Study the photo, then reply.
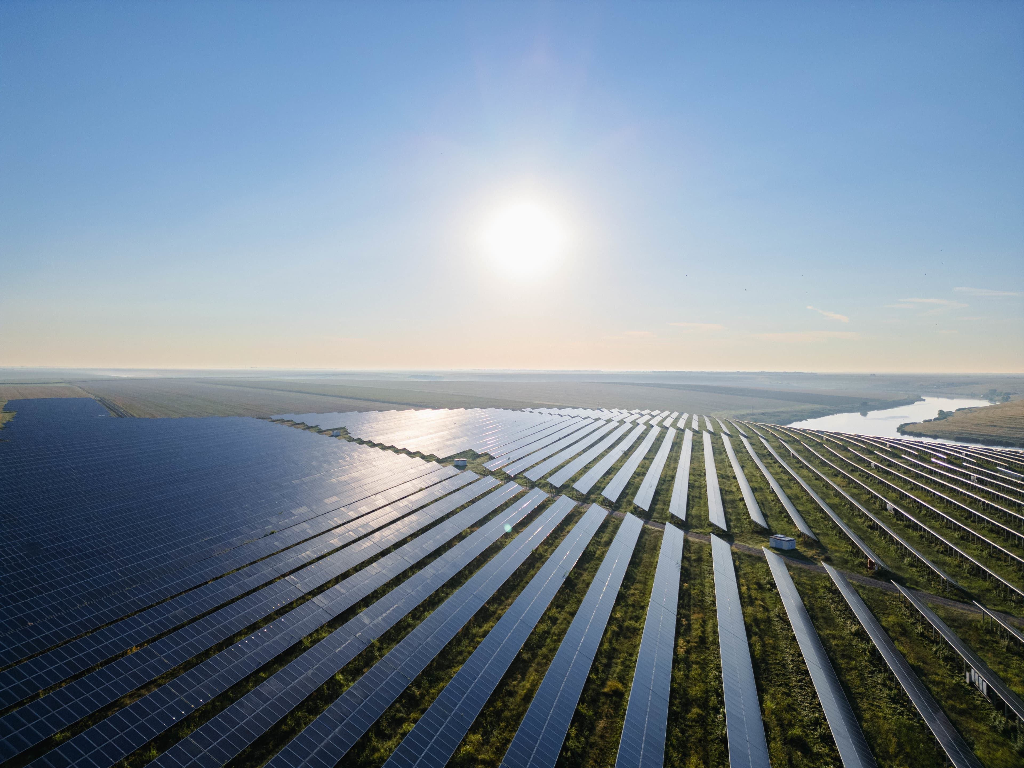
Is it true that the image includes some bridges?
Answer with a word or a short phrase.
No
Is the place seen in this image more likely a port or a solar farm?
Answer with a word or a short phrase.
solar farm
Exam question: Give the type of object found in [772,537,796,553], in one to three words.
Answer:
building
